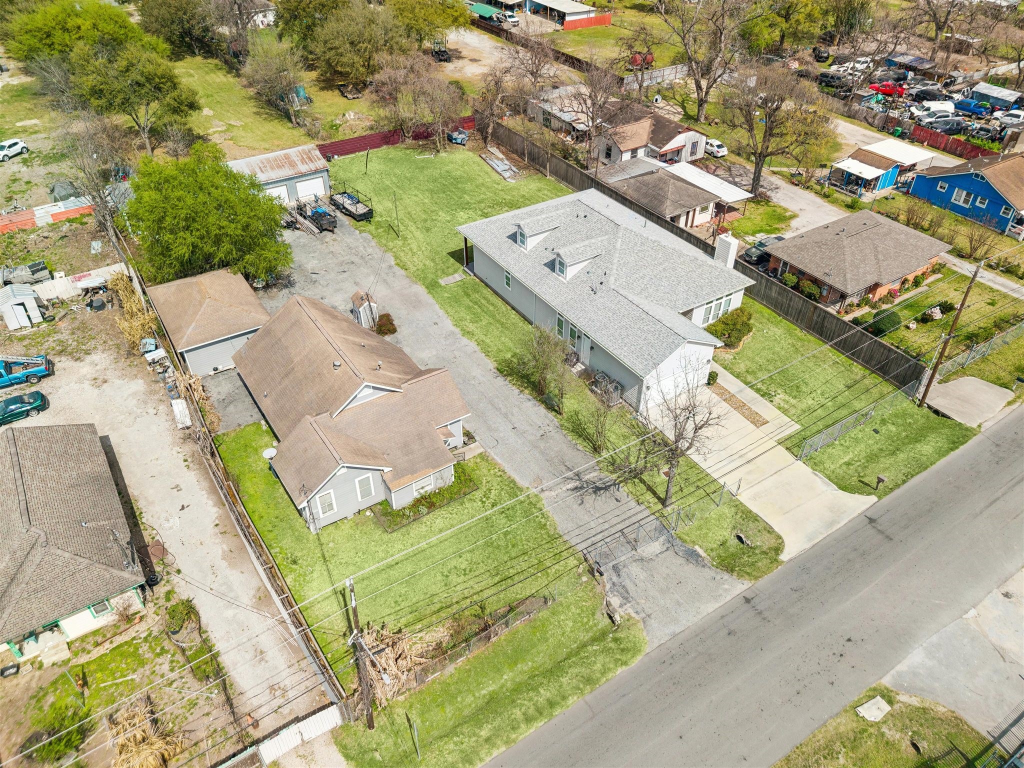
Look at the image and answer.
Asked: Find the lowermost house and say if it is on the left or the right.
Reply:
left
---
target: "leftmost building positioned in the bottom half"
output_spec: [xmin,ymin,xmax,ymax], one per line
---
[0,422,150,708]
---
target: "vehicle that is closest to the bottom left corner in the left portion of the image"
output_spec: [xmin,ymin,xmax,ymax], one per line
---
[0,385,48,421]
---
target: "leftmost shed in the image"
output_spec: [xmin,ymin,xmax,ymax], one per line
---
[0,287,42,330]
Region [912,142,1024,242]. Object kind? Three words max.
house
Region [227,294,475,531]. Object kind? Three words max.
house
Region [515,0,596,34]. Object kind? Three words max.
building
